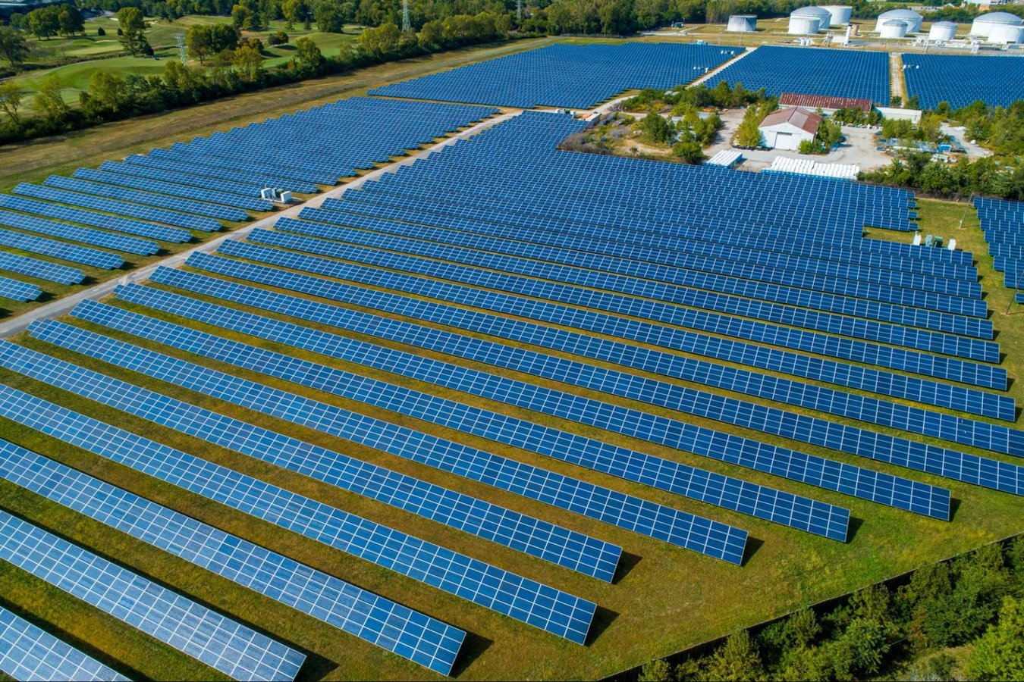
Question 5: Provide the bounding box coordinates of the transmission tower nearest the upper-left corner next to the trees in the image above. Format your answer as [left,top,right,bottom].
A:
[172,32,189,63]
